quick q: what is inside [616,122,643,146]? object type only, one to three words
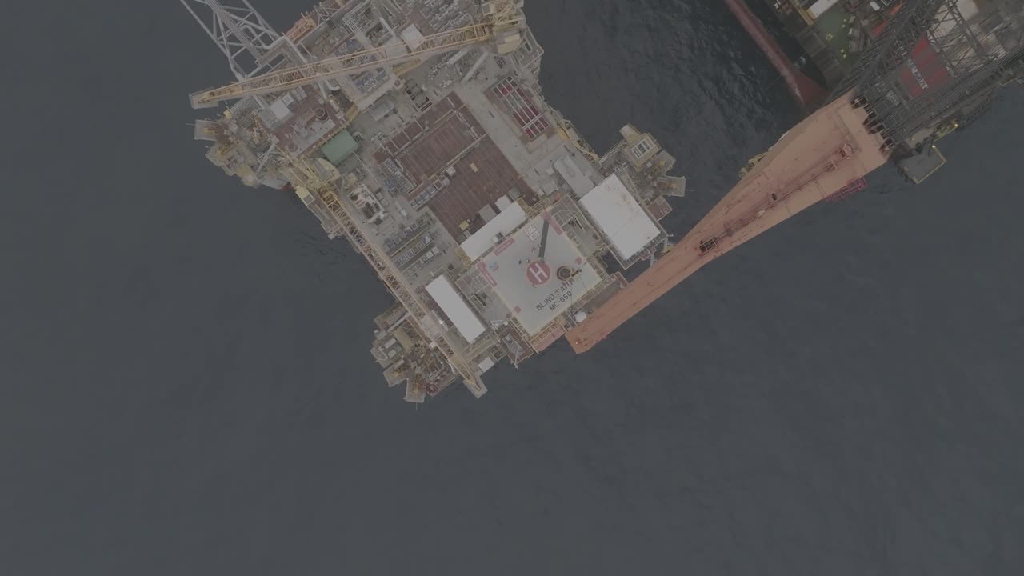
house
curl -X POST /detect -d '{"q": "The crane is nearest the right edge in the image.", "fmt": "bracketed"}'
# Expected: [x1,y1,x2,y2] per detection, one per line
[565,0,1024,353]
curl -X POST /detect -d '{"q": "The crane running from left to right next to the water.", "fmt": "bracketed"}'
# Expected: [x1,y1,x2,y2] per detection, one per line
[195,0,525,104]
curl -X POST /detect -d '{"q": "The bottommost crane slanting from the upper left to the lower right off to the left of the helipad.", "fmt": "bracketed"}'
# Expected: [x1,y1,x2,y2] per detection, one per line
[274,151,477,389]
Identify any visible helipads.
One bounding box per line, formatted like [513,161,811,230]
[471,204,608,341]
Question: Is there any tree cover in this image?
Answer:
No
